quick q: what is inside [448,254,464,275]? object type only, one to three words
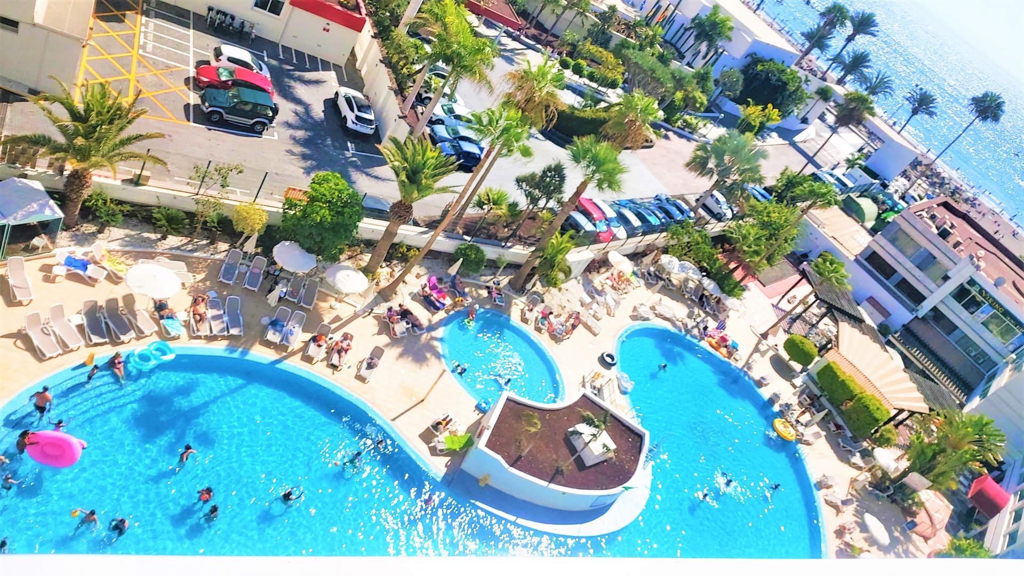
umbrella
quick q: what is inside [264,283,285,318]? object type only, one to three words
umbrella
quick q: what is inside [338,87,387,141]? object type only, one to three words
car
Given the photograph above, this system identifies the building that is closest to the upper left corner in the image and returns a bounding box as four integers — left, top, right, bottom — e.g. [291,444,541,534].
[0,0,102,99]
